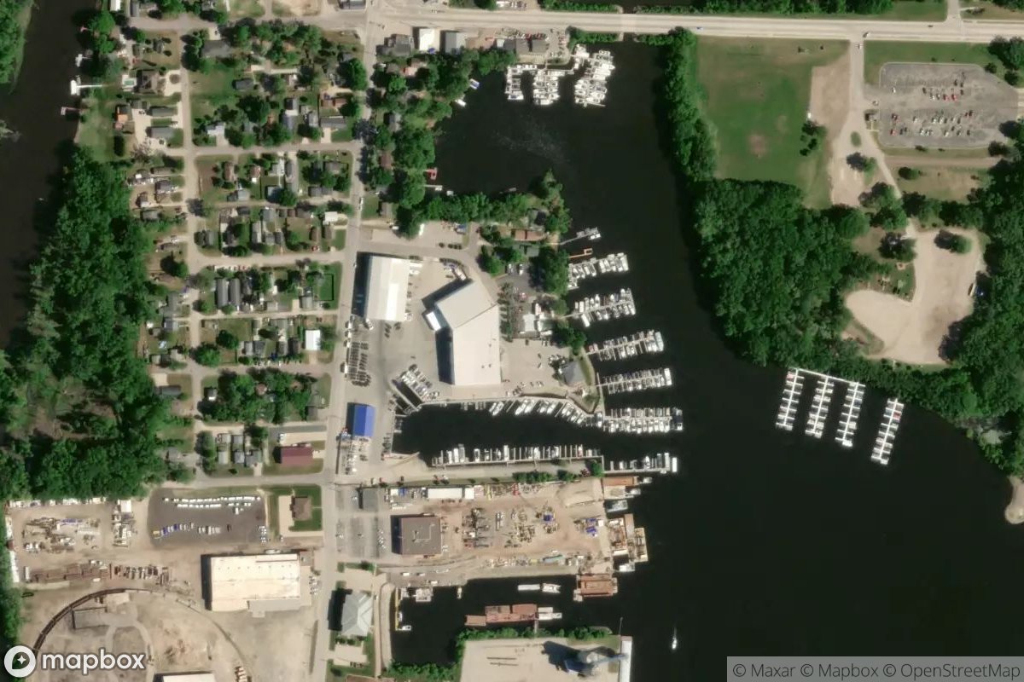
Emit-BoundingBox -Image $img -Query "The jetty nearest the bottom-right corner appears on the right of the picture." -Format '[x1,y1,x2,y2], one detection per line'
[872,399,904,462]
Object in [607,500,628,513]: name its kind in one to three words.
vessel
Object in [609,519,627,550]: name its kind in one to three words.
ship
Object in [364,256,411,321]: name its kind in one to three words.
shed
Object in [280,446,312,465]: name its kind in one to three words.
house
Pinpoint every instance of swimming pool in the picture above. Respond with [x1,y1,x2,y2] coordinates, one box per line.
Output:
[122,75,136,90]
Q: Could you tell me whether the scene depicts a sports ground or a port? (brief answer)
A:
port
